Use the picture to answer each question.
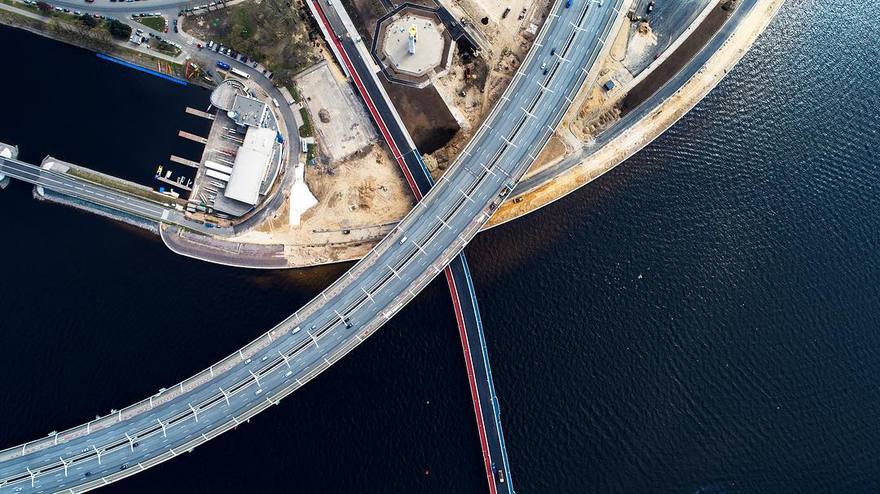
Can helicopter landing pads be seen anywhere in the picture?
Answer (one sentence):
No, there is no helicopter landing pad in the image.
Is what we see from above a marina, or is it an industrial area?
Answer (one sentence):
The area seen from above is a marina.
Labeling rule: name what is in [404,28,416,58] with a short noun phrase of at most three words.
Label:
lighthouse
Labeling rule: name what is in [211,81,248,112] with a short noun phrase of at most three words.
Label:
building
